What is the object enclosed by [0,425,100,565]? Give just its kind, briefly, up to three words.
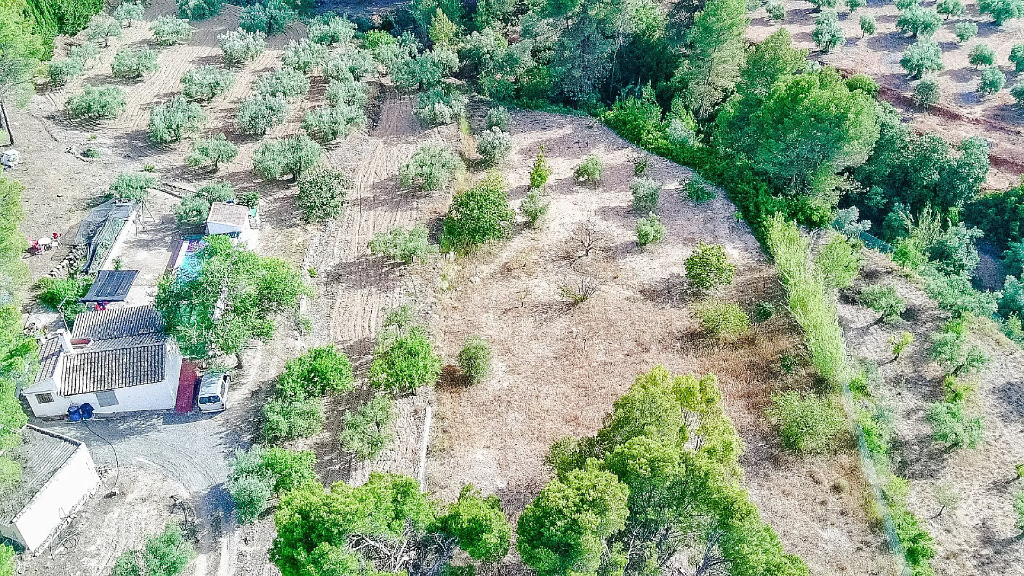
shed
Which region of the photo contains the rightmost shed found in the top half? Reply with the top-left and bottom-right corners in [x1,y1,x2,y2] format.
[206,196,258,238]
